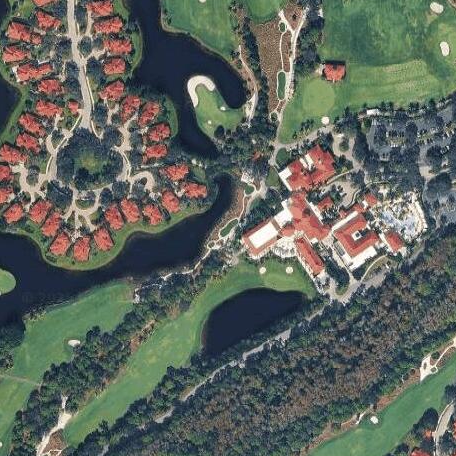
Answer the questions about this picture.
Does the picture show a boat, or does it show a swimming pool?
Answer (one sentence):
I can see a swimming pool in this picture.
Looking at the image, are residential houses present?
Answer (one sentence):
Yes, a residential house is visible in the scene.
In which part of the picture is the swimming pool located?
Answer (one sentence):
The swimming pool sits in the right section of the image.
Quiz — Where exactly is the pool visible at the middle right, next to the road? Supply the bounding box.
[370,190,428,242]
